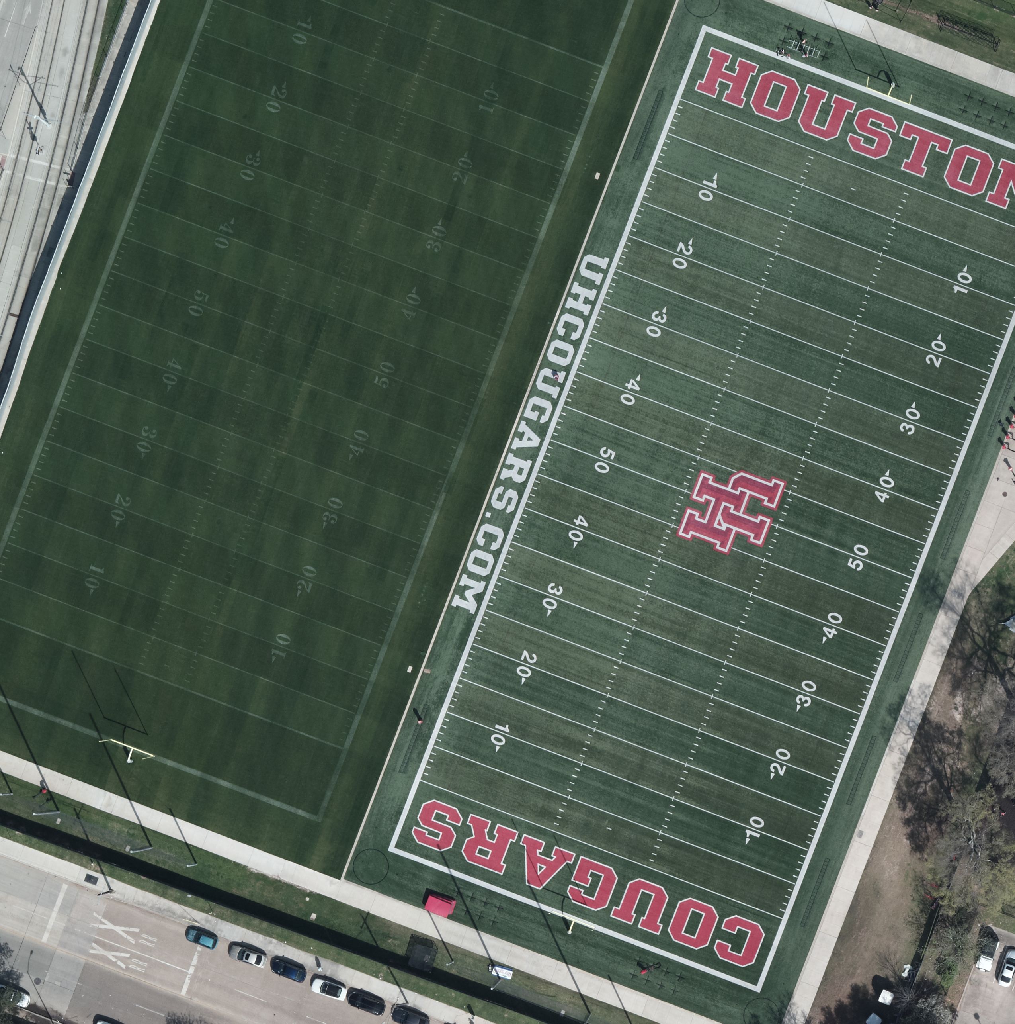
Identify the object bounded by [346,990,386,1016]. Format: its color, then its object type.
black car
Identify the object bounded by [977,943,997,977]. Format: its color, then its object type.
white car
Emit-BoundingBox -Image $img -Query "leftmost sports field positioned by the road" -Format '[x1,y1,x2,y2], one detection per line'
[0,0,676,879]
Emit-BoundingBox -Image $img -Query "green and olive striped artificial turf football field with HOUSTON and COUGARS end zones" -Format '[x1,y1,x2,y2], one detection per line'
[343,0,1015,1024]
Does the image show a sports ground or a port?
sports ground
